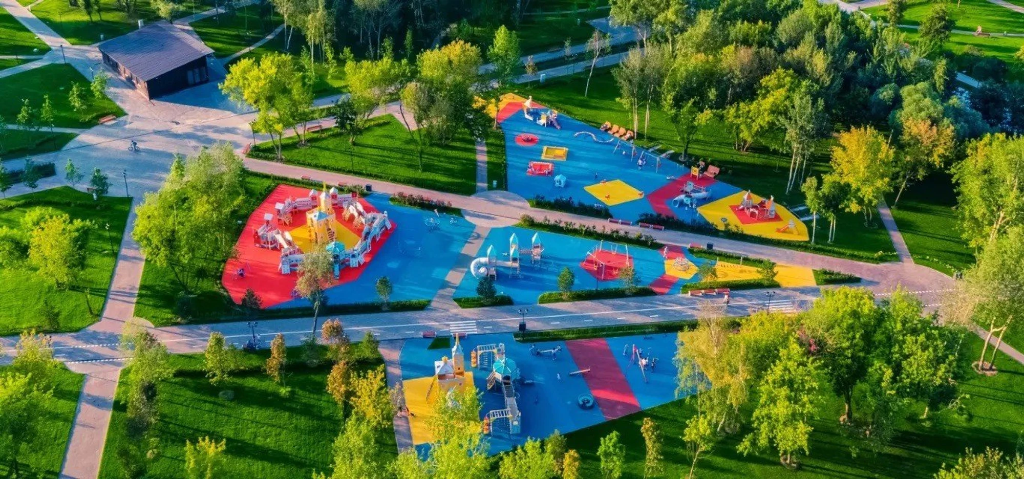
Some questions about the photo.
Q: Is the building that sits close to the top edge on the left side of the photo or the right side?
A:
left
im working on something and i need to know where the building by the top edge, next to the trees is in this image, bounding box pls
[97,20,209,99]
